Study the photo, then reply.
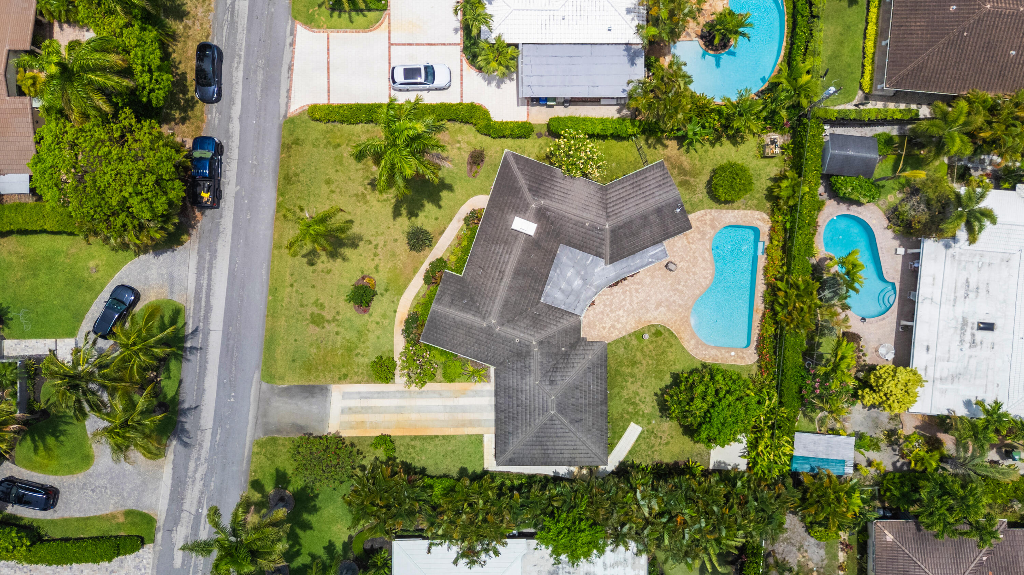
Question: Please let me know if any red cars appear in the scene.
No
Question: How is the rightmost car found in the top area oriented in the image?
from side to side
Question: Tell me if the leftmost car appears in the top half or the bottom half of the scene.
bottom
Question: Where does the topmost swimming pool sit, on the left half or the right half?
right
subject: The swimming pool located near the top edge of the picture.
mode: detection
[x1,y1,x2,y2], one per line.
[668,0,781,105]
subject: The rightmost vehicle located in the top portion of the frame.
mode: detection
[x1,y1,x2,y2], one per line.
[390,56,450,86]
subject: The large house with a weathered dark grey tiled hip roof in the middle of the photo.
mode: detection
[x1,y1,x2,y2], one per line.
[420,149,692,468]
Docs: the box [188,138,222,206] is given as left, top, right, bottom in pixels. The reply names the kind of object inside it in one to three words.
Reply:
truck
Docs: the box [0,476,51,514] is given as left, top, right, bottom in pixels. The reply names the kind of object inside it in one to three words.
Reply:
car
